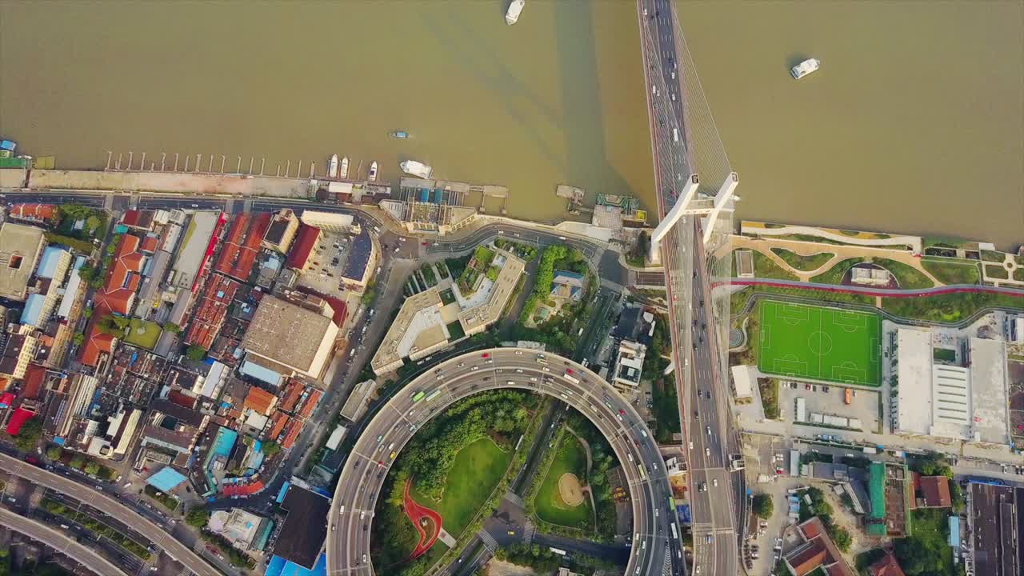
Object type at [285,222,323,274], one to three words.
building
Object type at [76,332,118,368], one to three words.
house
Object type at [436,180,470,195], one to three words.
pier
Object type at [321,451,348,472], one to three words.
greenhouse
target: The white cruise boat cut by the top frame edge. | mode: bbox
[507,0,527,25]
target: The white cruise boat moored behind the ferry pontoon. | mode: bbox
[400,160,433,180]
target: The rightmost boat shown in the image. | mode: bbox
[790,58,821,80]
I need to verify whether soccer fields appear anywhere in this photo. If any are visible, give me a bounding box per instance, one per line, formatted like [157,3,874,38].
[758,299,882,387]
